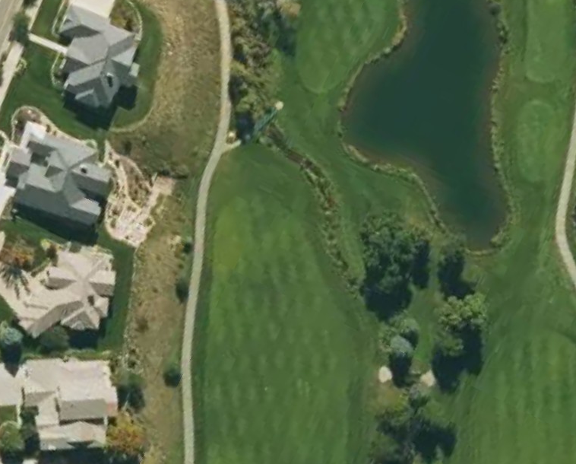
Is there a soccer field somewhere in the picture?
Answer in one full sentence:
No, the photo shows no soccer field.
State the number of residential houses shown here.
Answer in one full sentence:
I count 4 residential houses.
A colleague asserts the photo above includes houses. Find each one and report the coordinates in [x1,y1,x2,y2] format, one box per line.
[59,2,139,110]
[5,134,114,225]
[23,358,115,451]
[18,247,116,344]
